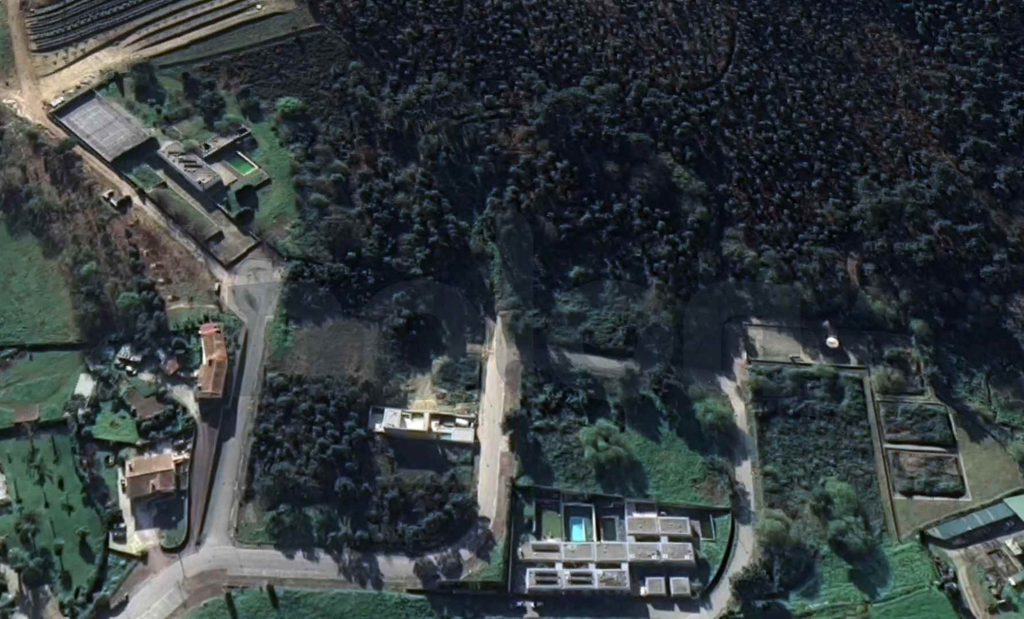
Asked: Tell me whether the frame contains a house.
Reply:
Yes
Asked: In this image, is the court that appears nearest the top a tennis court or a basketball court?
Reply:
tennis court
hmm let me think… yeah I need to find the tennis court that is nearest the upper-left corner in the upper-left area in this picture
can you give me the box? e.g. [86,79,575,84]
[57,92,151,164]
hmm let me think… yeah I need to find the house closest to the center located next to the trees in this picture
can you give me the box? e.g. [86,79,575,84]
[368,407,477,447]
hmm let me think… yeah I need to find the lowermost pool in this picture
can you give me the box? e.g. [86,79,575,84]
[569,516,587,543]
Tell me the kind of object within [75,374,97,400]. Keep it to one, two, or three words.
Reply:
shed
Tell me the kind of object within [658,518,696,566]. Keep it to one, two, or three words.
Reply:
house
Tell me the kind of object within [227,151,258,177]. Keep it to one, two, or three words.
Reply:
swimming pool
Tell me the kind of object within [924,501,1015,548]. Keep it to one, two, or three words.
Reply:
building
